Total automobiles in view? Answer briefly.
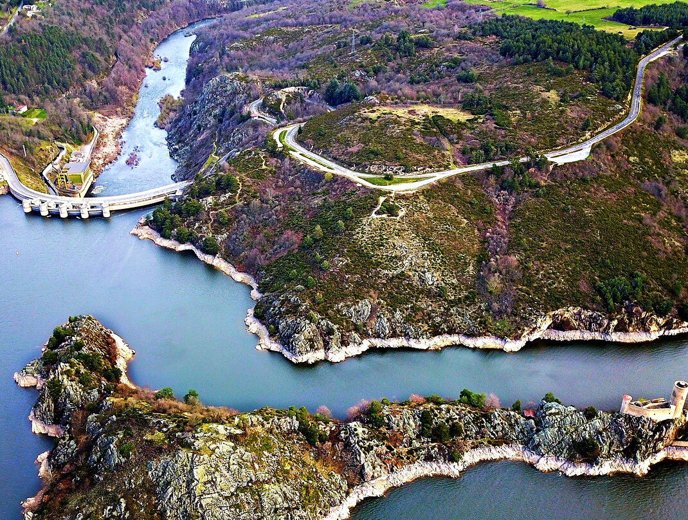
0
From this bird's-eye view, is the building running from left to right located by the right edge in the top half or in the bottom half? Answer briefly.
bottom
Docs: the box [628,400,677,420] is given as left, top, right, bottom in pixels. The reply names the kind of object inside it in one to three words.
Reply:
building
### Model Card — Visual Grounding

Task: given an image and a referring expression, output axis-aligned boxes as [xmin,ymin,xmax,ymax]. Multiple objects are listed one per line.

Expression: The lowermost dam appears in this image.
[6,180,194,218]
